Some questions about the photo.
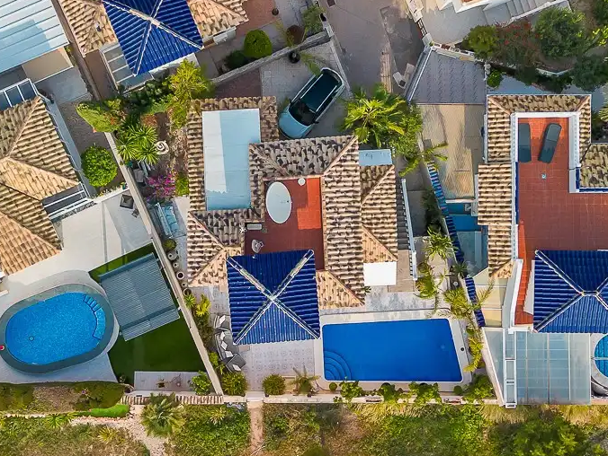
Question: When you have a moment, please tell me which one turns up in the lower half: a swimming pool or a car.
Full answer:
The one visible in the lower half is a swimming pool.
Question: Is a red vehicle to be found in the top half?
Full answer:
No, there is no red vehicle in the top half.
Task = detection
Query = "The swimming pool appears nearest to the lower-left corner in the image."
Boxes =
[0,278,122,378]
